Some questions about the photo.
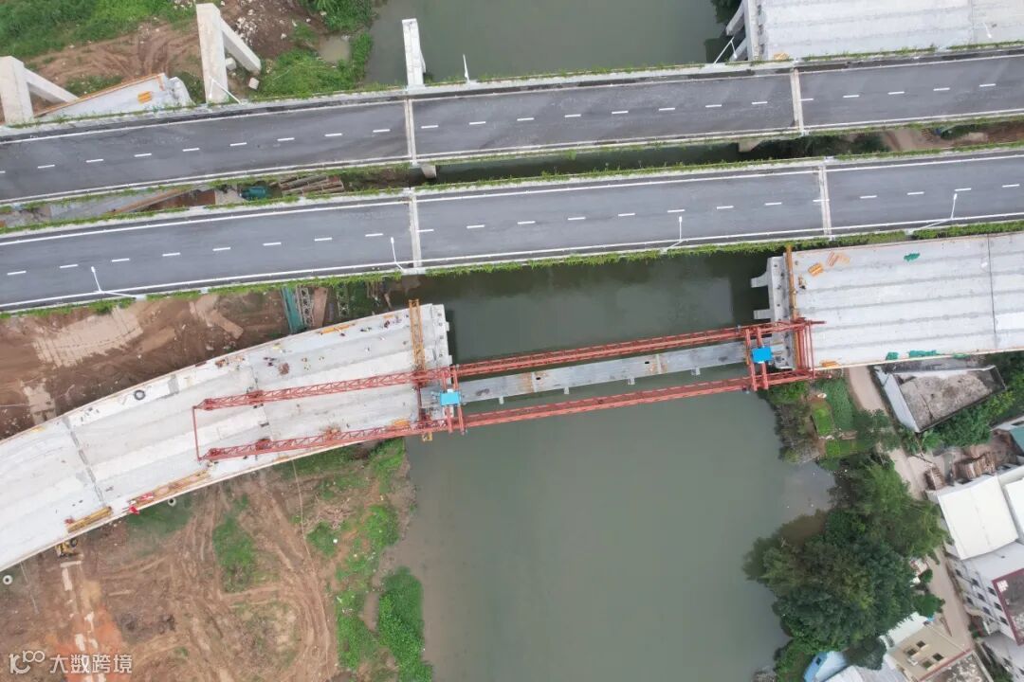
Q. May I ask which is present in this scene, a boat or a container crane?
container crane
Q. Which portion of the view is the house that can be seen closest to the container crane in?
right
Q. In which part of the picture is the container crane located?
center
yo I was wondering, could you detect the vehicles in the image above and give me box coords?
[41,536,76,565]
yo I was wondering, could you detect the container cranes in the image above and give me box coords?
[192,315,831,463]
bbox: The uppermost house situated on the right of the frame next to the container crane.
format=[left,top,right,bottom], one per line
[875,364,1008,432]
